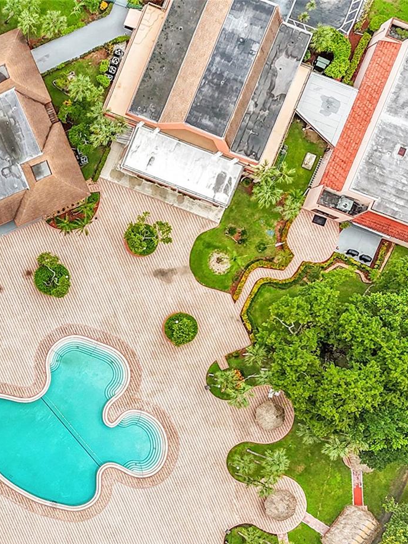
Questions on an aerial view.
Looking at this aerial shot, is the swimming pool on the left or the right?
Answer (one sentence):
The swimming pool is on the left side of the image.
